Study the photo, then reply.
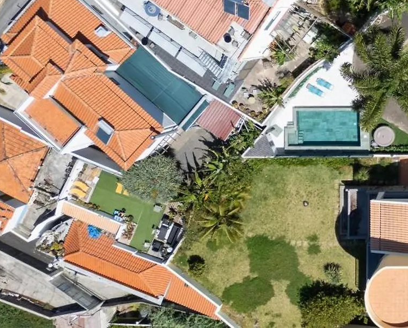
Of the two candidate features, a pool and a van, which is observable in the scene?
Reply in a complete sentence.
The one in the frame is a pool.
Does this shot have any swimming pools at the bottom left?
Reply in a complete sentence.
No, no swimming pool appears at the bottom left.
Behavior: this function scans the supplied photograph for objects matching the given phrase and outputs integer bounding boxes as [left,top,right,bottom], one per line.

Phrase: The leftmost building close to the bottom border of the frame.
[60,197,249,328]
